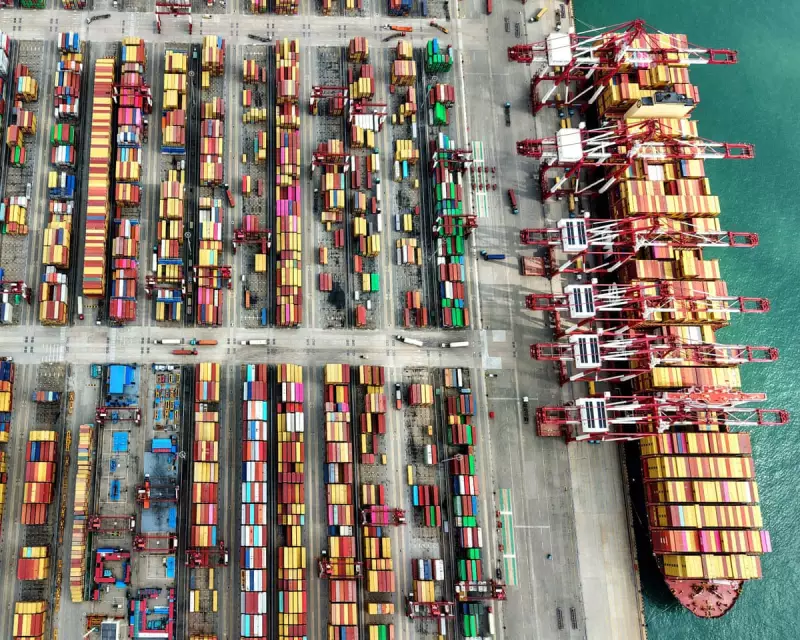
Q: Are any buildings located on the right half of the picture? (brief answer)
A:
No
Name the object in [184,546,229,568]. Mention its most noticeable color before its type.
red container crane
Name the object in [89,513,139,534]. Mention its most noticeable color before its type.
red container crane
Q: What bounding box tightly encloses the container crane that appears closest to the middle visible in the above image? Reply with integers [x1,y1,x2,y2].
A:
[429,215,480,241]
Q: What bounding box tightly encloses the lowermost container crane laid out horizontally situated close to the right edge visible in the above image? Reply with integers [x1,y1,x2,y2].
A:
[534,388,795,445]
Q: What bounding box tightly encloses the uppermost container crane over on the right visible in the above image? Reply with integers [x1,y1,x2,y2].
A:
[505,20,735,108]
